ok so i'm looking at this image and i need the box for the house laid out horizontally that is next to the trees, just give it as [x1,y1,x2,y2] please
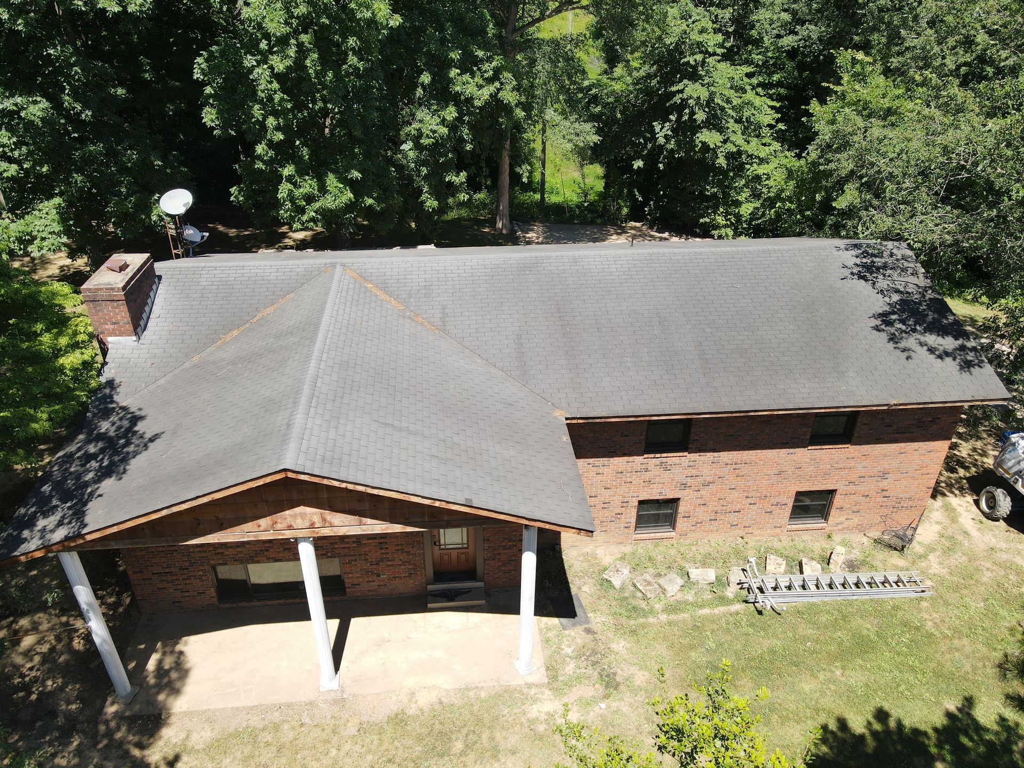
[0,232,1010,707]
